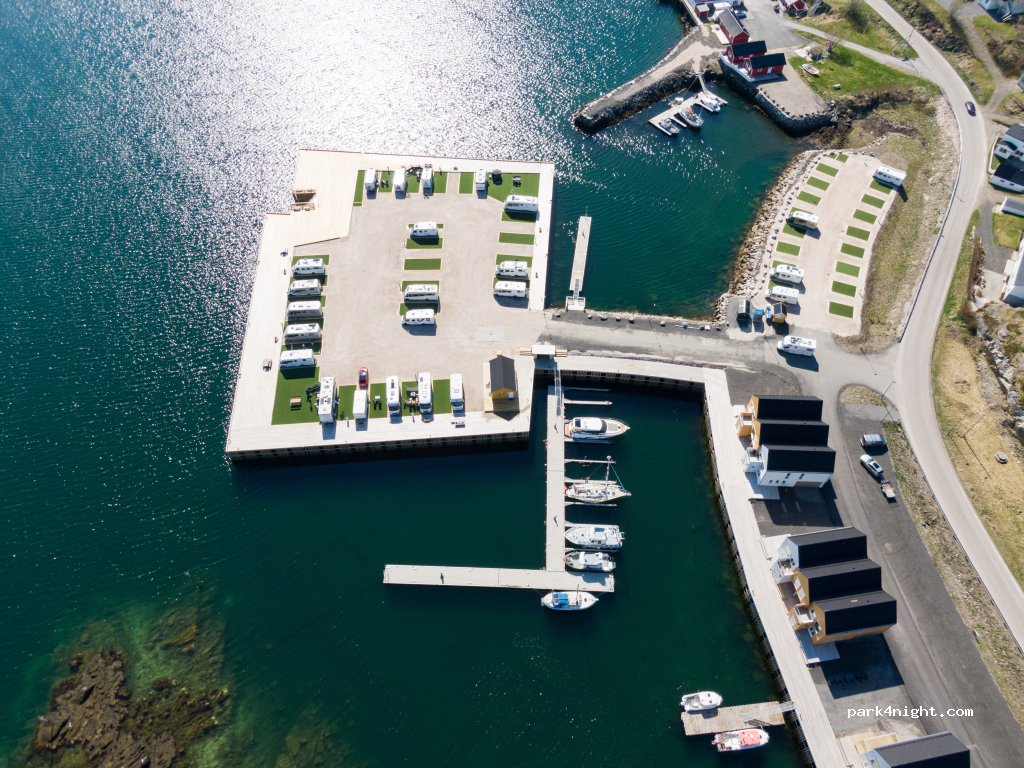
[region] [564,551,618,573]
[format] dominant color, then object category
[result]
white boat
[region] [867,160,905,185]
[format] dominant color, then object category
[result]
white camper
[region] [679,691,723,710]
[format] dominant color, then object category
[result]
white boat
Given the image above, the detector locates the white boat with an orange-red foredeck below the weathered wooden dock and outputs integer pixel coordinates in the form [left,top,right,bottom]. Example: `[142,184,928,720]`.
[712,730,770,754]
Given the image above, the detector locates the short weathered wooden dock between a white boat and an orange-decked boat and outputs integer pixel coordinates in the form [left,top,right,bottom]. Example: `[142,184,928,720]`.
[681,701,784,735]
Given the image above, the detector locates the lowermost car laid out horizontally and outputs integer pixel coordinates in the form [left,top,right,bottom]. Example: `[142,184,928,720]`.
[859,434,889,448]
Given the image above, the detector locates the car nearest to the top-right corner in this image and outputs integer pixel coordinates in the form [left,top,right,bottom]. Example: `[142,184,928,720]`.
[963,101,979,115]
